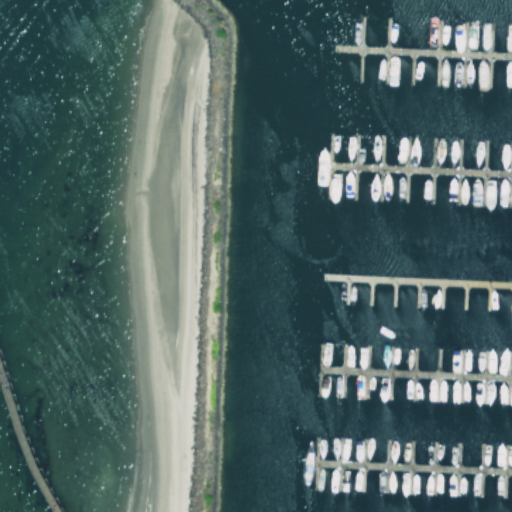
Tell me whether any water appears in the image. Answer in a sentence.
Yes, water can be seen from above here.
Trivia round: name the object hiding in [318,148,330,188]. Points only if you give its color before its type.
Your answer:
white boat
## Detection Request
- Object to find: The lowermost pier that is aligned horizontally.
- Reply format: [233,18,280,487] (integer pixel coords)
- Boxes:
[315,437,512,500]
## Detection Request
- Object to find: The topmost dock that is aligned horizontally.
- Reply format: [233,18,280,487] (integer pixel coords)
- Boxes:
[335,16,512,89]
